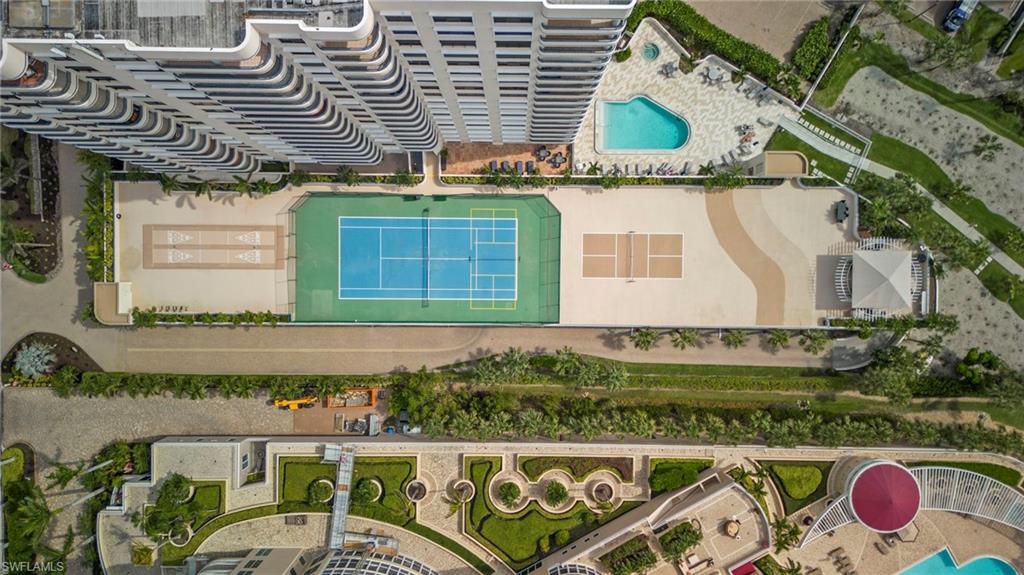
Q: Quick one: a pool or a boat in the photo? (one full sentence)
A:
Of the two, only a pool appears.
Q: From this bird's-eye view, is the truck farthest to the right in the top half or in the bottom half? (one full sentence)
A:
The top half of the photo is where the truck farthest to the right is.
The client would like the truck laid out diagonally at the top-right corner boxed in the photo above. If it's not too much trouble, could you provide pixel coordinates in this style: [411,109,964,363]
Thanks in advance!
[941,0,984,34]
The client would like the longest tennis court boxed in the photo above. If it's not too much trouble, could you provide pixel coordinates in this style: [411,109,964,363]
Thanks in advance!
[296,192,560,324]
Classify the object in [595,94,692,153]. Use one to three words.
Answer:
swimming pool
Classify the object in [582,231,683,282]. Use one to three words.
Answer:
sports court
